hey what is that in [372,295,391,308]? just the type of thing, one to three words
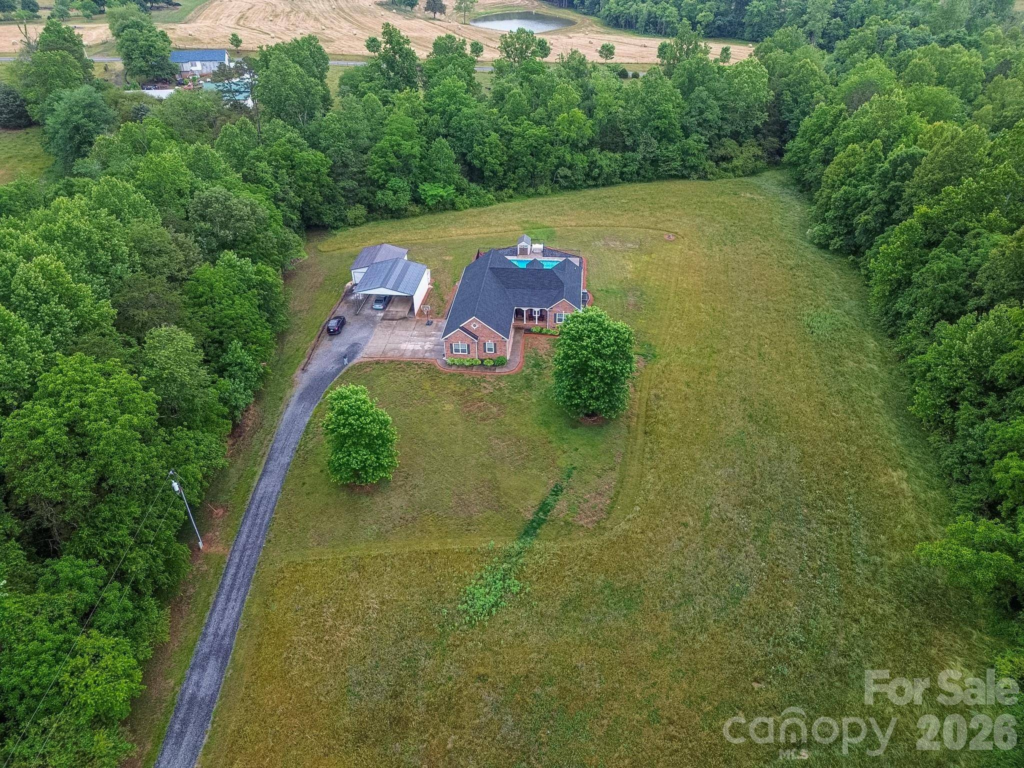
vehicle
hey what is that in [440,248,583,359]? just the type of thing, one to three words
house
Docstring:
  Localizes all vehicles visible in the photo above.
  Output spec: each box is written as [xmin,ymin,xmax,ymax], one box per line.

[171,78,189,85]
[372,295,391,308]
[181,82,196,90]
[327,313,349,333]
